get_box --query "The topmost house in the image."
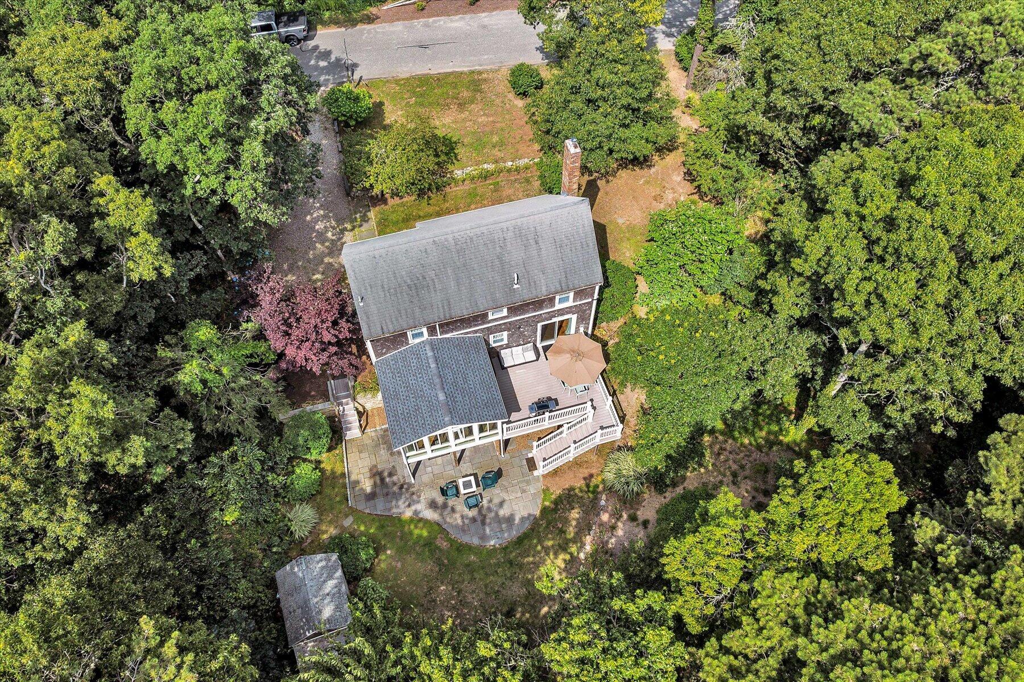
[342,135,605,363]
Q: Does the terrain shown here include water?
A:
No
